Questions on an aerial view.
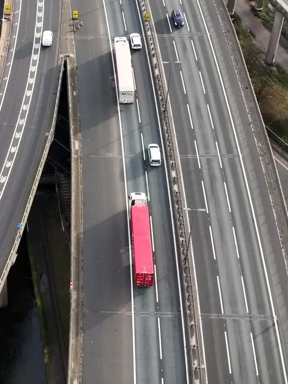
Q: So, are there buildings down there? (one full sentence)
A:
No, no building can be seen from above.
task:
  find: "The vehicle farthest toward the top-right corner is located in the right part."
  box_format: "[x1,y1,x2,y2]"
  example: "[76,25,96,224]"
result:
[172,8,185,26]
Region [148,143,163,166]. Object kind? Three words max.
car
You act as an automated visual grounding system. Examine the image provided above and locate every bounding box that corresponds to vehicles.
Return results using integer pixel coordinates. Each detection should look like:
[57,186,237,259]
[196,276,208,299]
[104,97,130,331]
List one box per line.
[130,196,155,284]
[114,39,135,101]
[148,143,163,166]
[130,33,142,49]
[172,8,185,26]
[41,31,53,47]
